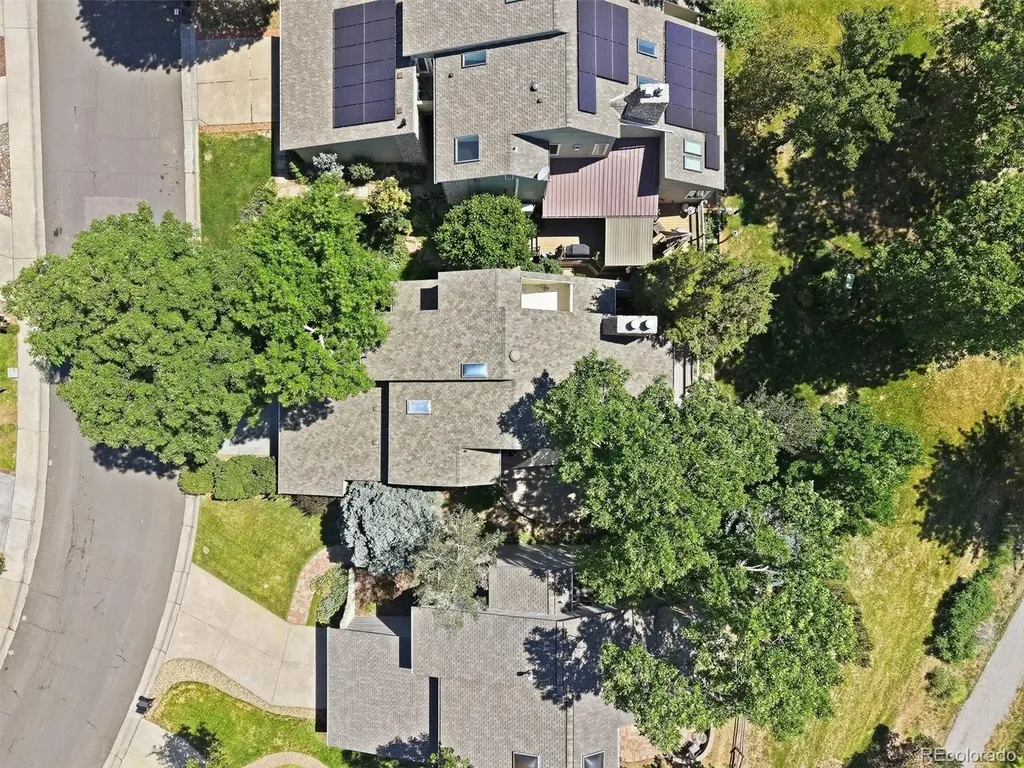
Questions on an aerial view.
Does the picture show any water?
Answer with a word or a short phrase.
No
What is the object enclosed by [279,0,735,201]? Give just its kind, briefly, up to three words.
house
